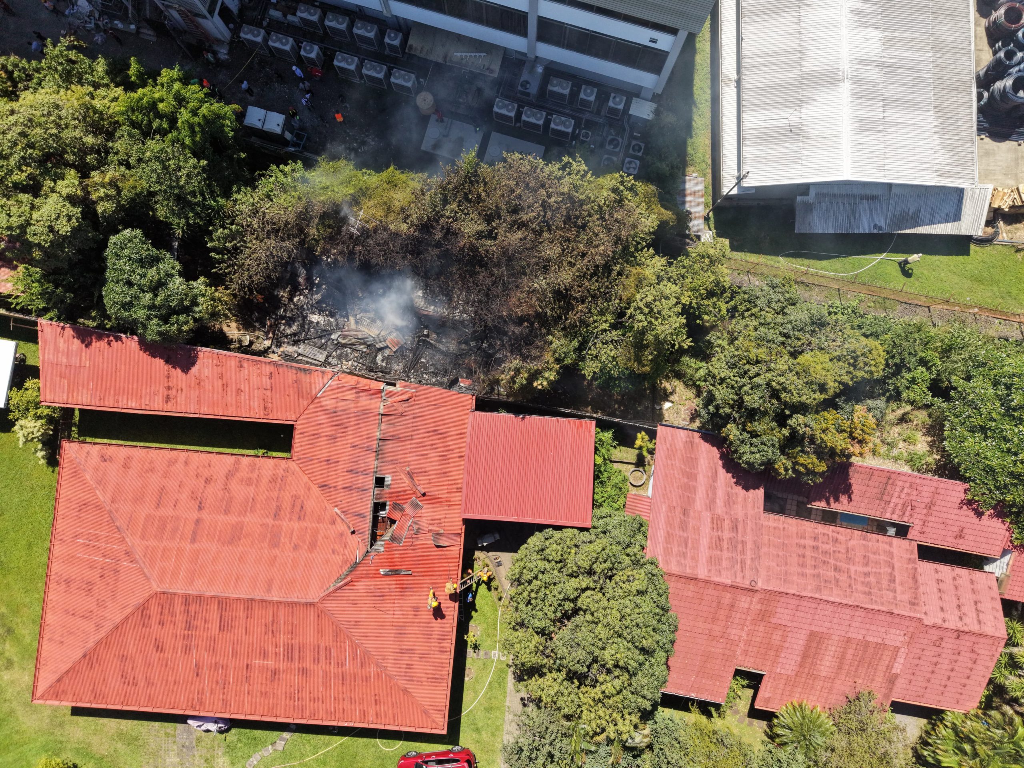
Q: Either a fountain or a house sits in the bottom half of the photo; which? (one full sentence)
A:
You can see a house in the bottom half of the photo.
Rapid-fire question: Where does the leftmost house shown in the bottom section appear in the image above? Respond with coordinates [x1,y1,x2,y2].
[32,318,476,734]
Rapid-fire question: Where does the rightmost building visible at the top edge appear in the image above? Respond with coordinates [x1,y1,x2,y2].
[715,0,979,209]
